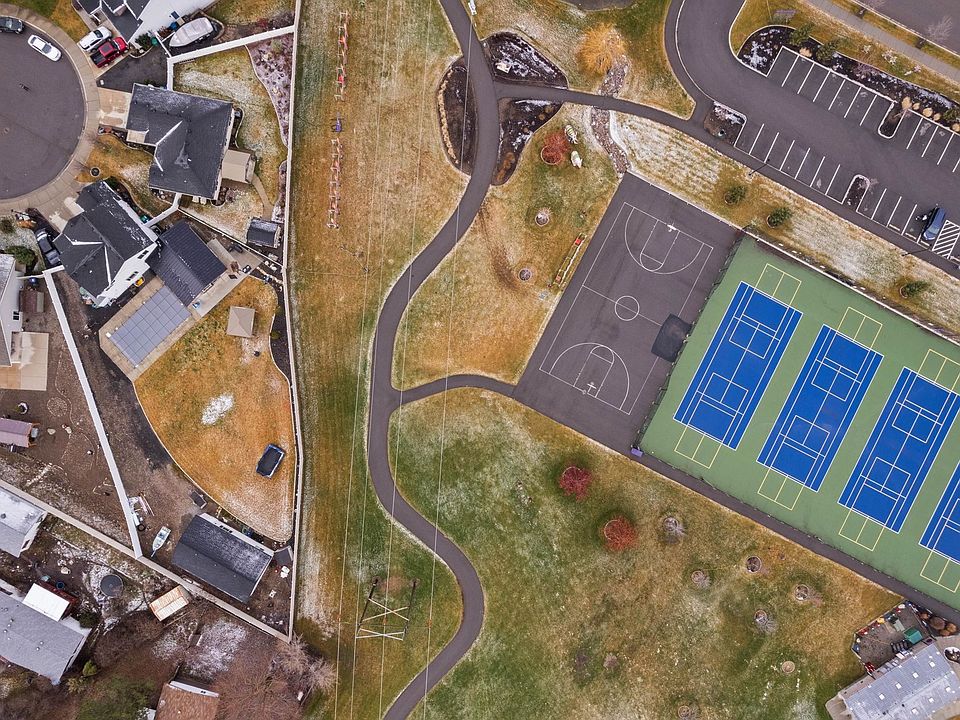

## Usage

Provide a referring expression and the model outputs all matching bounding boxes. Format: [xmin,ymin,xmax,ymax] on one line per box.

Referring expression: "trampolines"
[98,574,123,597]
[257,444,283,477]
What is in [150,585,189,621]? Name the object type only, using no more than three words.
shed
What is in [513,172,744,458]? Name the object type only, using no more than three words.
basketball court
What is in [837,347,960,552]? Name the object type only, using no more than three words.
sports court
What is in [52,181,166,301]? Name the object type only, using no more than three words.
house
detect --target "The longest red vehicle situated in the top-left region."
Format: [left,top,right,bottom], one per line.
[87,36,127,65]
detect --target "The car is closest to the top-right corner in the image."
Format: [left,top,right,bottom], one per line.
[924,206,953,240]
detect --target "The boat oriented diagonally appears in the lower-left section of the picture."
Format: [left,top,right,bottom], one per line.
[151,528,169,554]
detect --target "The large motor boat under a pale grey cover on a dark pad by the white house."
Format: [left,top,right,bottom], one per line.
[162,13,212,50]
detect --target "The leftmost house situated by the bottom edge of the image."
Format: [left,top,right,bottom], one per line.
[0,580,88,686]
